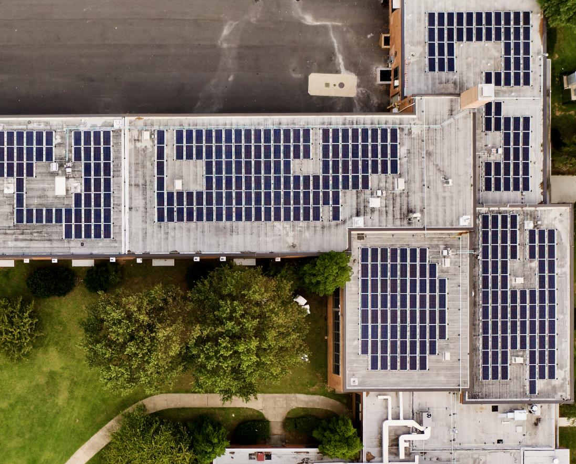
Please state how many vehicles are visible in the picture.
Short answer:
none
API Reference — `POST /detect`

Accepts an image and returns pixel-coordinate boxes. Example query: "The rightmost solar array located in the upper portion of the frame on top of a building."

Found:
[481,101,534,192]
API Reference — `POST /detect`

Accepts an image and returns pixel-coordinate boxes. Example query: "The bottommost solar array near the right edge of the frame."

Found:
[478,214,559,395]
